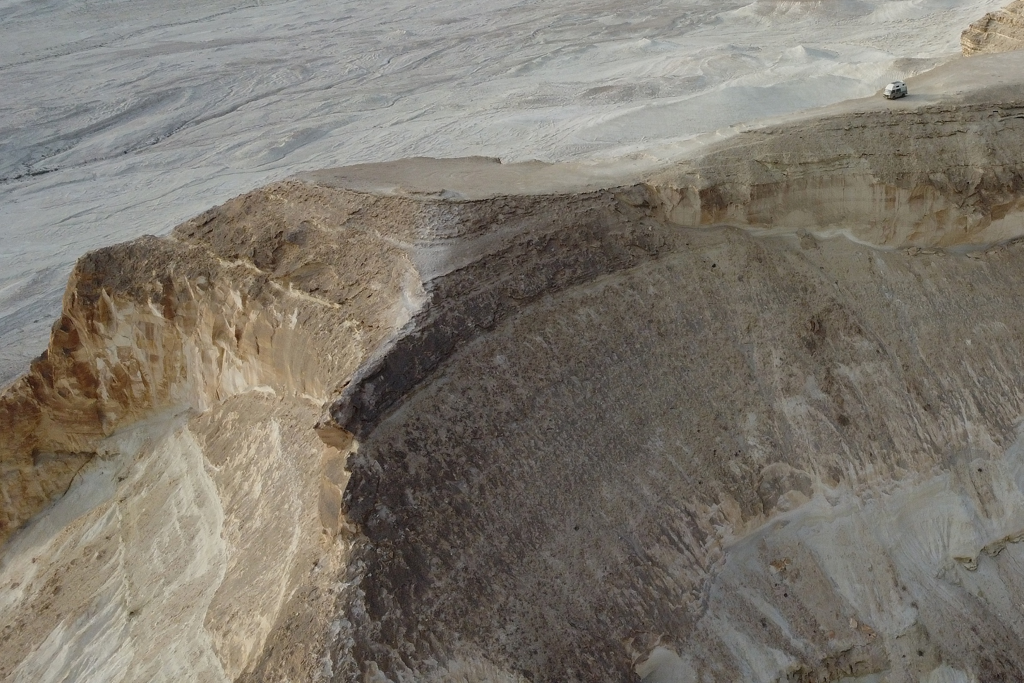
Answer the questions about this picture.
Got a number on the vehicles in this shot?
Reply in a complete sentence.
I count just 1 vehicle.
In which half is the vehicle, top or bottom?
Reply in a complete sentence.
The vehicle is in the top half of the image.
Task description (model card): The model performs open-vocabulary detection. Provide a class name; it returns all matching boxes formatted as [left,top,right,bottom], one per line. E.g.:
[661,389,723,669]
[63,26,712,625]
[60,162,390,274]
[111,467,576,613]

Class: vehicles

[886,81,913,102]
